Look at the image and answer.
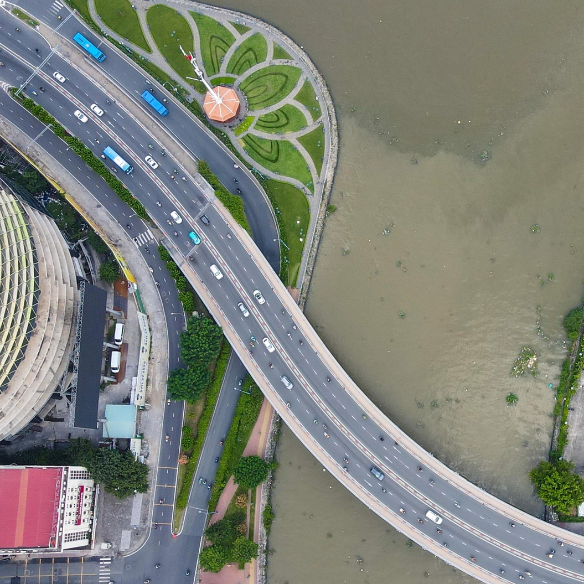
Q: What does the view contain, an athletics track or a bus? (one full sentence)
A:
There is a bus in the scene.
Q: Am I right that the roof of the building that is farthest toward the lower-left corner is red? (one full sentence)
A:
Yes, red is the color of the roof of the building that is farthest toward the lower-left corner.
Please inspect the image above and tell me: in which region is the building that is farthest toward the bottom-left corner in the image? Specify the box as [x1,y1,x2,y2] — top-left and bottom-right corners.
[0,455,97,553]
